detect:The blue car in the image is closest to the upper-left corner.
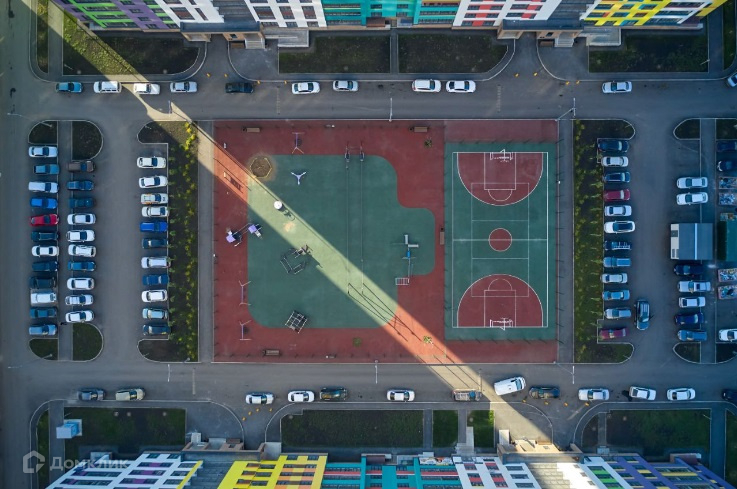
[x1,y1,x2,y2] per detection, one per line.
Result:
[56,80,84,94]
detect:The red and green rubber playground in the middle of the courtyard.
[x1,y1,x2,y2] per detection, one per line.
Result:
[214,122,443,362]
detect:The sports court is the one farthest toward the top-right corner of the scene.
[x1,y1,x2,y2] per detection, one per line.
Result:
[443,122,556,362]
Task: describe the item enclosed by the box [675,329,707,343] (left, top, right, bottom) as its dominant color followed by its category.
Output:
blue vehicle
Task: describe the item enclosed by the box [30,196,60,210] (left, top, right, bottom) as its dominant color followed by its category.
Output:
blue vehicle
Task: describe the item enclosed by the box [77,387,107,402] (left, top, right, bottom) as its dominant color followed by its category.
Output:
blue car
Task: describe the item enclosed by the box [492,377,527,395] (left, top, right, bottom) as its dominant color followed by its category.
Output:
white vehicle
